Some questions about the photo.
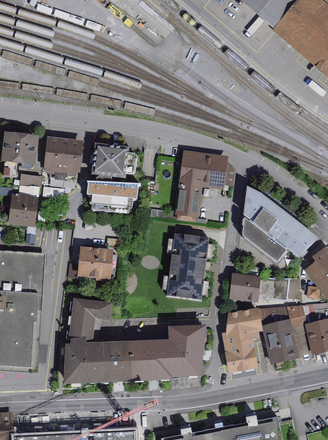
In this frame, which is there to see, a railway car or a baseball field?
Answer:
railway car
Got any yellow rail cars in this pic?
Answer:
Yes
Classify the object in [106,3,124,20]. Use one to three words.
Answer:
rail car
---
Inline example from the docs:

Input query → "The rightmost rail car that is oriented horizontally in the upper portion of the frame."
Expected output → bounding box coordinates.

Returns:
[124,103,156,116]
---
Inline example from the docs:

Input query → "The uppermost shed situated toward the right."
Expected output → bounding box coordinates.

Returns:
[245,0,294,28]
